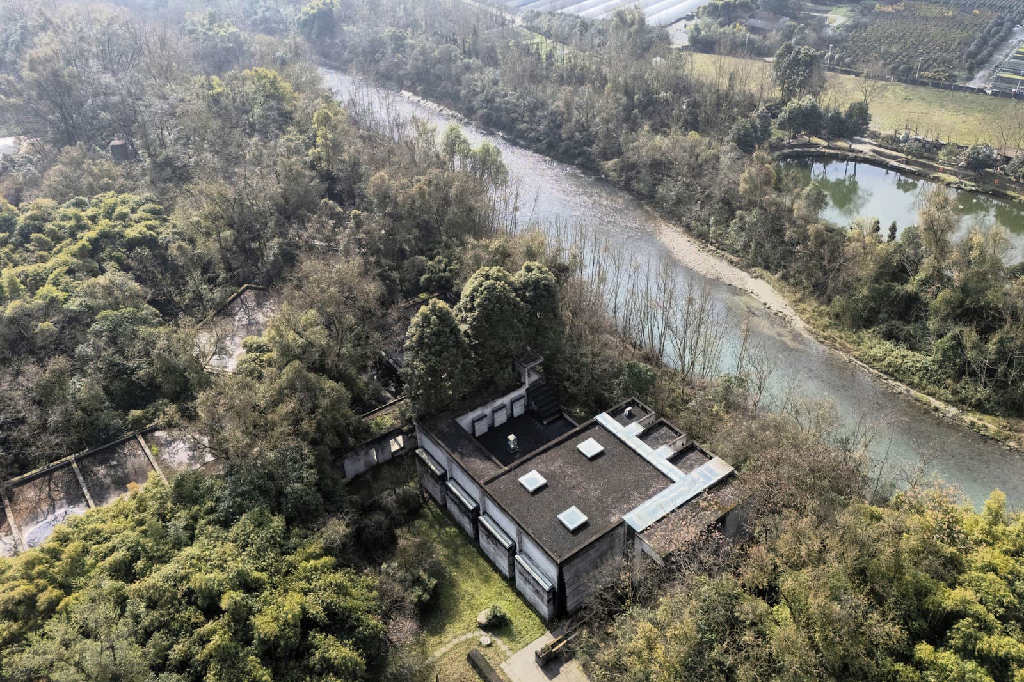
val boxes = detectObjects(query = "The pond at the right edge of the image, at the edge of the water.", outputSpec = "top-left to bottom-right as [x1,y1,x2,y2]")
[771,157,1024,255]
